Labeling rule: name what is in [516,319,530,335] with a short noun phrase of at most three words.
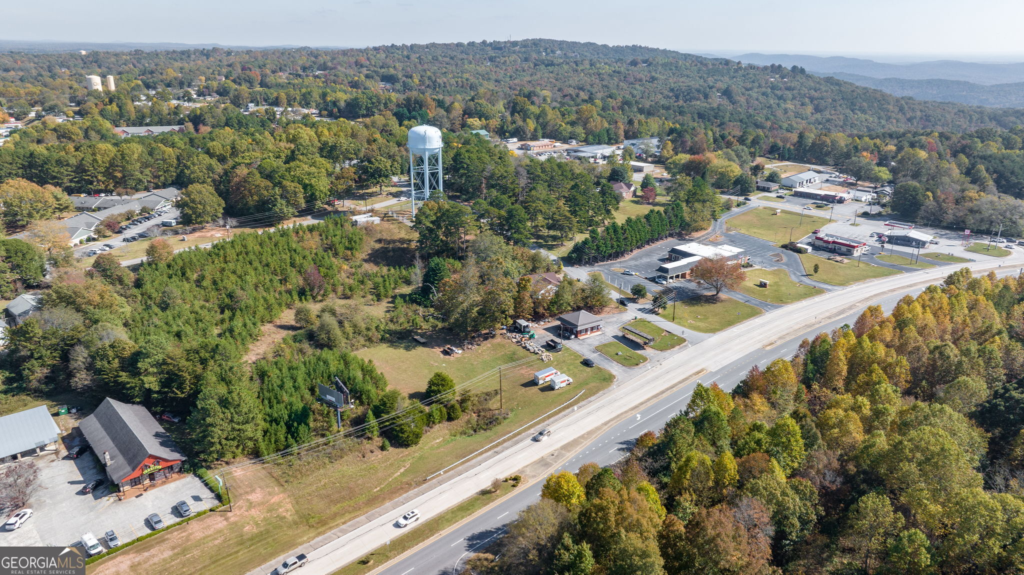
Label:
vehicle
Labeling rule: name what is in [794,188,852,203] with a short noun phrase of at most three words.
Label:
building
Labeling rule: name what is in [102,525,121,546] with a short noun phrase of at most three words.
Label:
car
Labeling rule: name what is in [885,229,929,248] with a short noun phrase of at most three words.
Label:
building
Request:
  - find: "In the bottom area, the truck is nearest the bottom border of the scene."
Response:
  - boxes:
[276,552,312,575]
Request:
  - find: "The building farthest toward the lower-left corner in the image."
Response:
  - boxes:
[0,405,61,465]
